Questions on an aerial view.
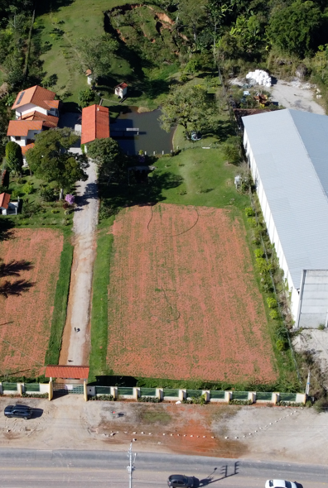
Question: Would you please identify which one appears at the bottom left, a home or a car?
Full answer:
Looking at the bottom left, you will find a car.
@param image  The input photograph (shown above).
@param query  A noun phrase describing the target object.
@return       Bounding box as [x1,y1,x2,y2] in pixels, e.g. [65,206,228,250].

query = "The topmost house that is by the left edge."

[3,87,65,164]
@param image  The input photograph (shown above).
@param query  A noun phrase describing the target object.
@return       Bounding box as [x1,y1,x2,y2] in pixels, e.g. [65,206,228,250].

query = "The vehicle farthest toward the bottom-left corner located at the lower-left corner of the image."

[4,403,33,420]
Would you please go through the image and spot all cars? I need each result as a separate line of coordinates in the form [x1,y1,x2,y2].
[167,471,196,488]
[4,403,33,420]
[265,478,299,488]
